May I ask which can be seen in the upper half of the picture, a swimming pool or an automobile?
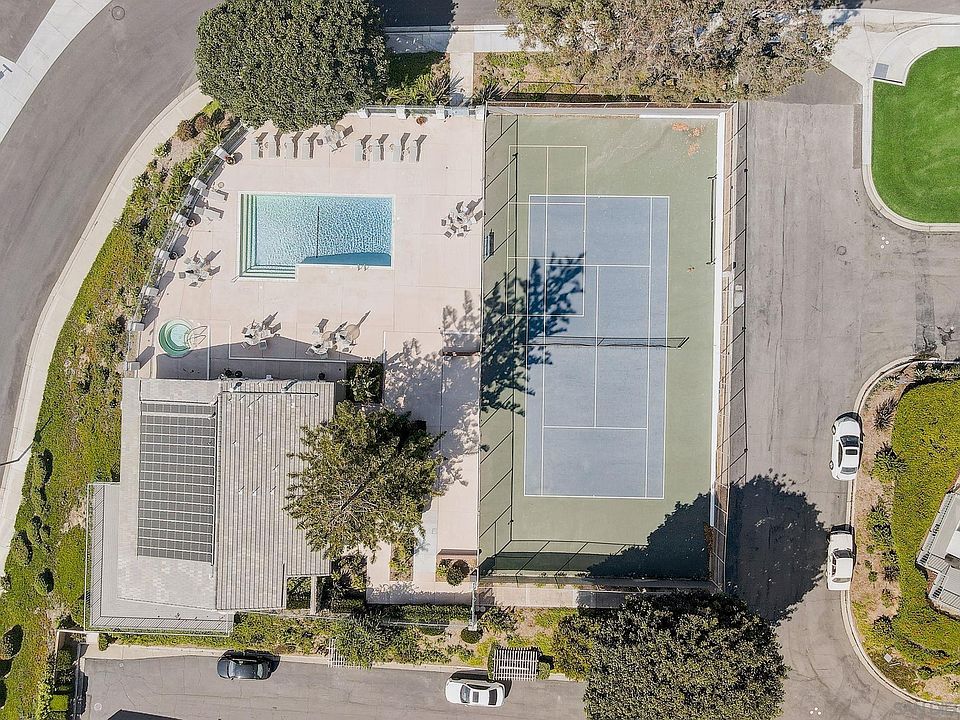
swimming pool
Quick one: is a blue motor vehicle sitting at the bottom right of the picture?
No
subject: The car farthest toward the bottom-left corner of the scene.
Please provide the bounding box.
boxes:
[219,652,274,683]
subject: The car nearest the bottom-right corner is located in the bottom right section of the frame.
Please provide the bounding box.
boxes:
[825,531,857,591]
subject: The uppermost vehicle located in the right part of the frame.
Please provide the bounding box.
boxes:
[830,415,863,477]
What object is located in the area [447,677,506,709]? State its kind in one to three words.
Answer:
car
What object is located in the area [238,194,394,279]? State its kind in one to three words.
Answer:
swimming pool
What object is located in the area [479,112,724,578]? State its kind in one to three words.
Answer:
tennis court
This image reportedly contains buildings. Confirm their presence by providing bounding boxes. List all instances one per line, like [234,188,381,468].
[83,379,337,636]
[915,488,960,615]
